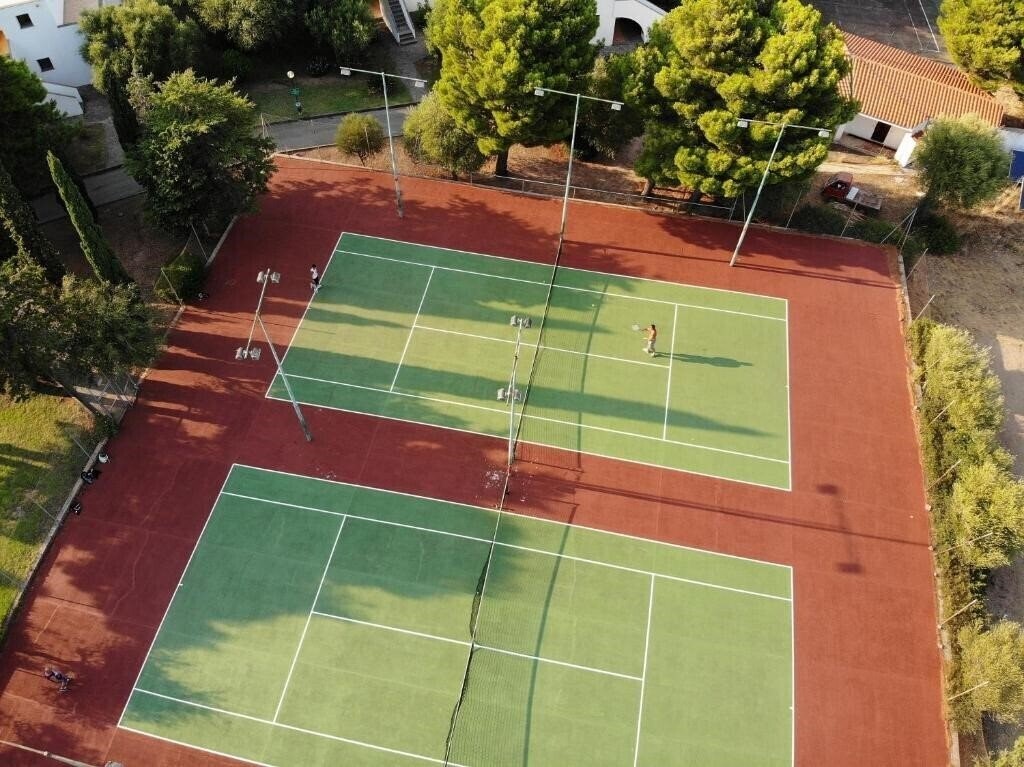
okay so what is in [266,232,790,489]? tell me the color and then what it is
green tennis court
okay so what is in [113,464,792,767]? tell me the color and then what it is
green tennis court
